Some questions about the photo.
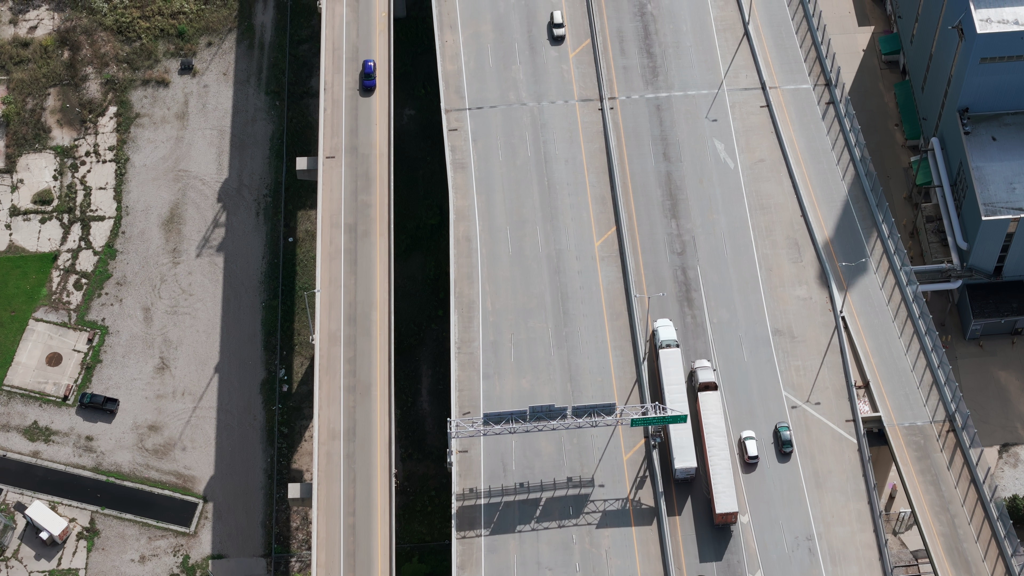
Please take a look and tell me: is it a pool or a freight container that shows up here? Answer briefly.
freight container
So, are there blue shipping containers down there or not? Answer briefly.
No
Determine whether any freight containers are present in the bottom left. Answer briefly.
Yes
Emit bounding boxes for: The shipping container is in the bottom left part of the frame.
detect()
[24,500,72,544]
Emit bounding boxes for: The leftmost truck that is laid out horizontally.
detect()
[77,389,123,412]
